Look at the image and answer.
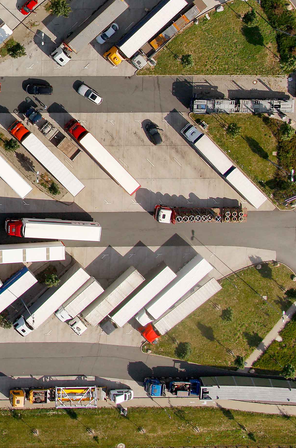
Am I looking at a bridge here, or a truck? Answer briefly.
truck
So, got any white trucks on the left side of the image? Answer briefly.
Yes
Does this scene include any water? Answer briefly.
No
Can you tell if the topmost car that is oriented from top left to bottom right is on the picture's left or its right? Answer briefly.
left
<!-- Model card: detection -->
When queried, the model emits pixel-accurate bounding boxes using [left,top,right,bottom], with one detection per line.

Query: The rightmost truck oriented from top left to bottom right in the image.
[177,120,267,209]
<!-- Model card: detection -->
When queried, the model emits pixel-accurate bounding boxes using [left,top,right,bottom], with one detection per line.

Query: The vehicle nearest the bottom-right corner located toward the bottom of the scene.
[141,378,203,397]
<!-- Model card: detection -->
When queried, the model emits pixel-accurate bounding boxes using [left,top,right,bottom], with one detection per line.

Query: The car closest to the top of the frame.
[19,0,39,17]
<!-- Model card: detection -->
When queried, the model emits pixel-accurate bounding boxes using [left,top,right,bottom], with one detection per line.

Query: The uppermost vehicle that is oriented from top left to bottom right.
[77,83,103,106]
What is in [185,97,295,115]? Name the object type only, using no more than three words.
vehicle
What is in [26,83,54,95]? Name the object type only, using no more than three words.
vehicle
